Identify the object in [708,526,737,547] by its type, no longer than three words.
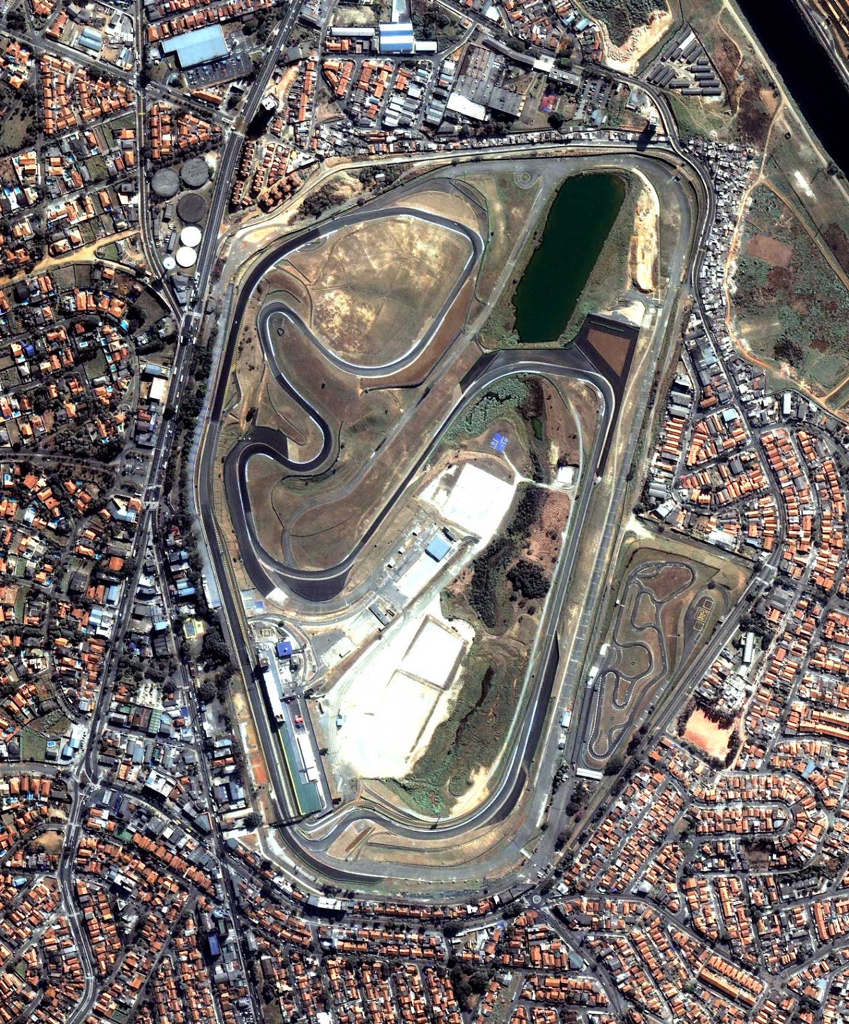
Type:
building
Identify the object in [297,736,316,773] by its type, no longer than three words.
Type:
shed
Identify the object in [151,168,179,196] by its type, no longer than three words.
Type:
storage tank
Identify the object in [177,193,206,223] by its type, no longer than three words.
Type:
storage tank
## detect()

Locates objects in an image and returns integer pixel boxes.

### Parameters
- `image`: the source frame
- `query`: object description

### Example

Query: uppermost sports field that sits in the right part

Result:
[748,235,794,267]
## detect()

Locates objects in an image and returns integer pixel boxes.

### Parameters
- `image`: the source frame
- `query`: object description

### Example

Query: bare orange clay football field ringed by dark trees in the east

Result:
[686,708,735,758]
